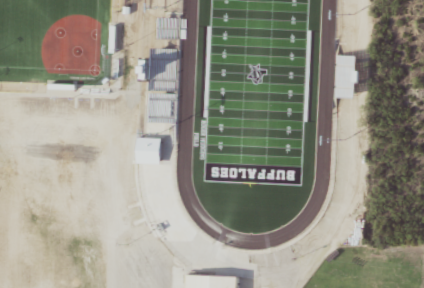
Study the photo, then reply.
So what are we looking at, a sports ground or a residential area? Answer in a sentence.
The area seen from above is a sports ground.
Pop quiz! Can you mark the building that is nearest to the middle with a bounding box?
[134,138,162,164]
